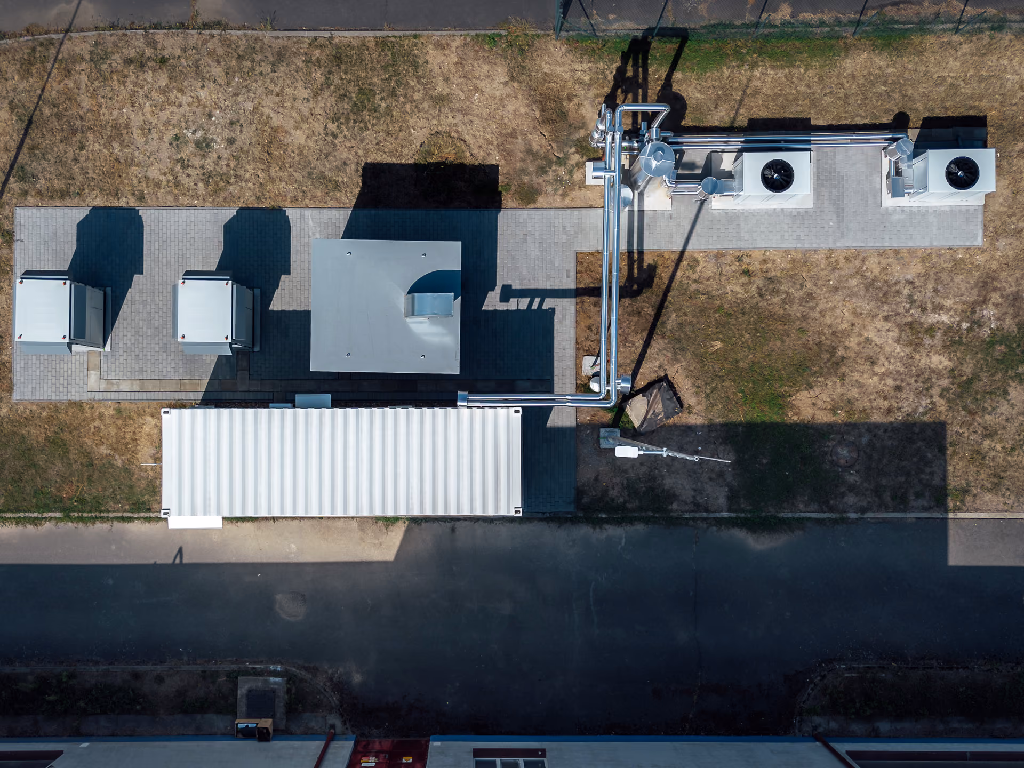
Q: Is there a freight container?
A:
Yes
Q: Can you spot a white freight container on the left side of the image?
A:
Yes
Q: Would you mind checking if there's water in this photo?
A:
No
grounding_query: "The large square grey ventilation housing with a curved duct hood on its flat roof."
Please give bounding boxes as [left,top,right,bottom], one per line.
[310,239,461,373]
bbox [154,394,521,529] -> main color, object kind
white shipping container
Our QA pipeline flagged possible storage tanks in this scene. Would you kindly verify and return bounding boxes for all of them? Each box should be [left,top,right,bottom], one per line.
[632,141,676,189]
